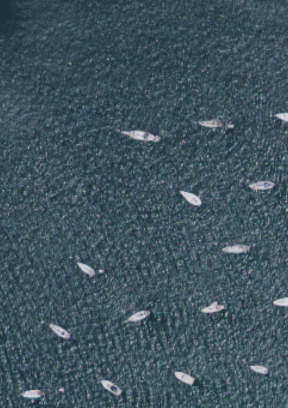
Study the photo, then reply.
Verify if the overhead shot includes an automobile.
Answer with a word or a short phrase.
No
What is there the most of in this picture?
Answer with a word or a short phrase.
water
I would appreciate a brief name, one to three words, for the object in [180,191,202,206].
boat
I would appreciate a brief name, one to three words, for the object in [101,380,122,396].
boat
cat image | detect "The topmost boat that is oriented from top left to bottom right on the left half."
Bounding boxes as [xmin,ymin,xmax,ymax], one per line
[77,262,96,276]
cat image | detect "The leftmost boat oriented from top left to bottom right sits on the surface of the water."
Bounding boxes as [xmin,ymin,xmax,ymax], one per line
[49,324,70,339]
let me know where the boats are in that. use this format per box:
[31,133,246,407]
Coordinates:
[248,182,274,189]
[77,262,96,276]
[101,380,122,396]
[222,246,251,253]
[198,120,220,127]
[122,131,160,142]
[250,366,268,375]
[49,324,70,339]
[180,191,202,206]
[22,390,44,398]
[274,112,288,121]
[201,304,224,312]
[273,298,288,306]
[174,372,194,386]
[124,310,150,322]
